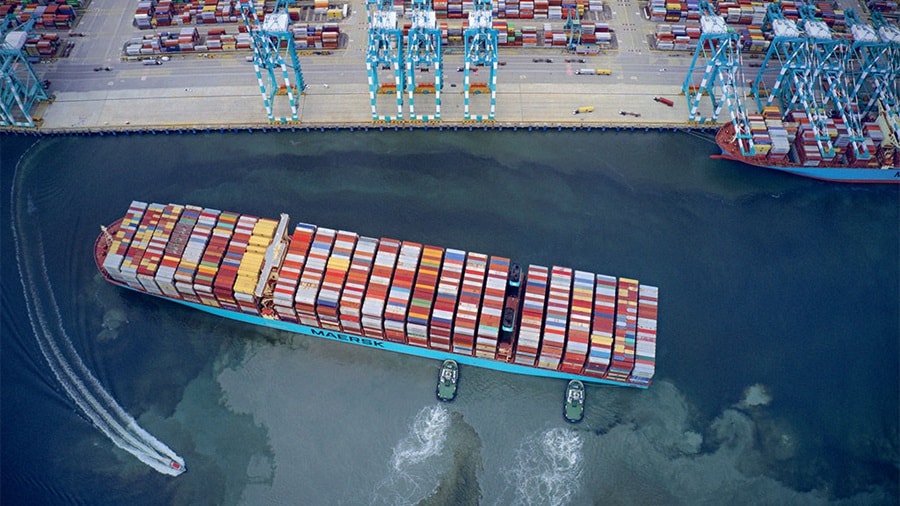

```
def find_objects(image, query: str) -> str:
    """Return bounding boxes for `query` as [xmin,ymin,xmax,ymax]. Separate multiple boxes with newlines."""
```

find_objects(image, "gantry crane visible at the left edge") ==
[0,15,49,126]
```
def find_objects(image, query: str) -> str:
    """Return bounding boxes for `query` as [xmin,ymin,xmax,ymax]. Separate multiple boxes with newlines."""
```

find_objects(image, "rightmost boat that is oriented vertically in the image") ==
[562,380,584,427]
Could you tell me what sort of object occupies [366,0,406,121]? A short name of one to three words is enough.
container crane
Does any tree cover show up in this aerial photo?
No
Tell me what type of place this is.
port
